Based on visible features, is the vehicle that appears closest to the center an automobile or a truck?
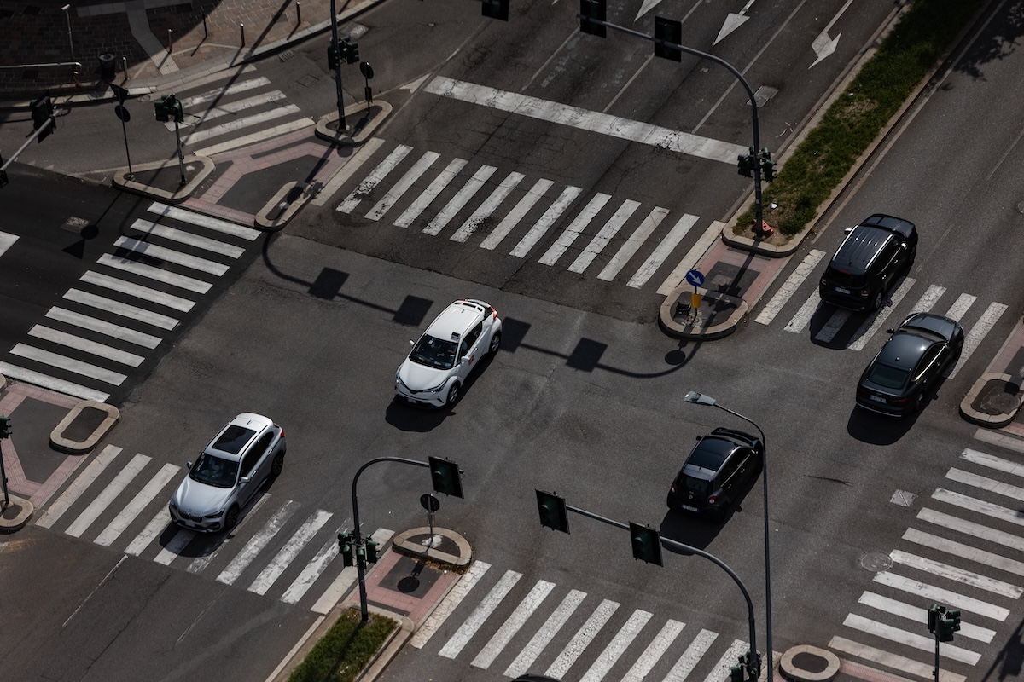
automobile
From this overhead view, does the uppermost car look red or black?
black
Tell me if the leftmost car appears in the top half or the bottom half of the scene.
bottom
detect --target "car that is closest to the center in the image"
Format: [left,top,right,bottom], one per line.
[392,300,501,405]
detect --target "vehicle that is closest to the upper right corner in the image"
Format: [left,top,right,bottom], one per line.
[813,210,917,307]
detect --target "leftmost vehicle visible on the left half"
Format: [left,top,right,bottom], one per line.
[164,412,284,530]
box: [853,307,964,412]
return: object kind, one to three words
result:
car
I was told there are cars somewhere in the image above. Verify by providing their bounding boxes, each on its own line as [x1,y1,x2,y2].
[392,300,501,405]
[813,210,917,307]
[853,307,964,412]
[665,423,762,517]
[164,412,284,530]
